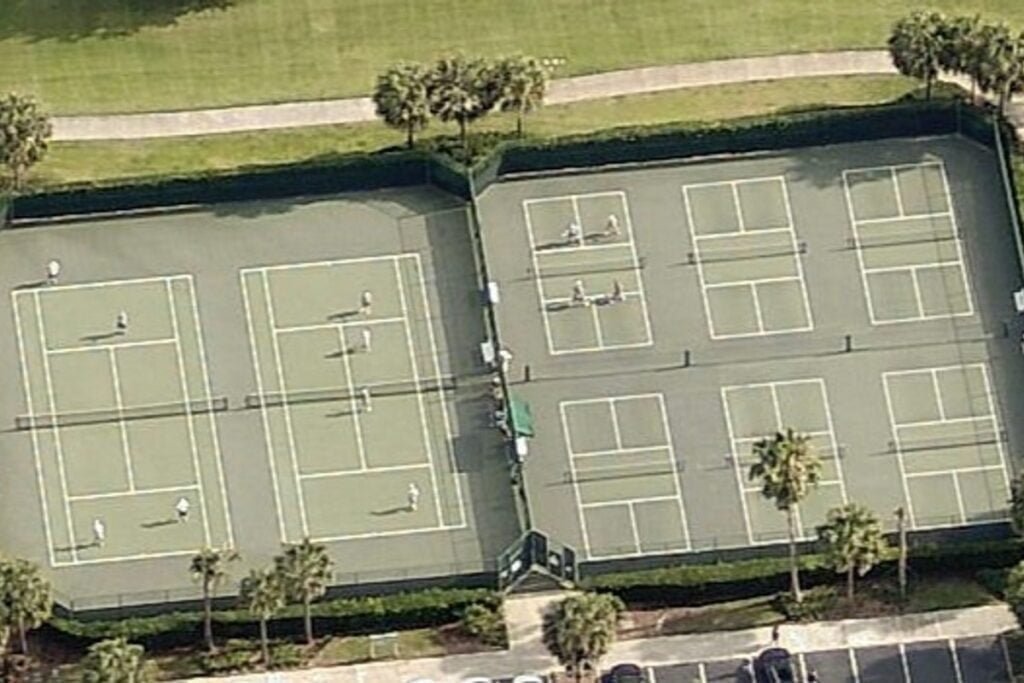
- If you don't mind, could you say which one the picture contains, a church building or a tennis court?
tennis court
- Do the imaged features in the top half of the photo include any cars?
No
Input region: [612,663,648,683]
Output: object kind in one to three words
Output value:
car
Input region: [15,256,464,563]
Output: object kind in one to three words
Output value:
tennis court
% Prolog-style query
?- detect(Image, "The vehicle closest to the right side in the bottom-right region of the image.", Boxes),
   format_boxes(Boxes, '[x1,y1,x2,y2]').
[761,648,798,683]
